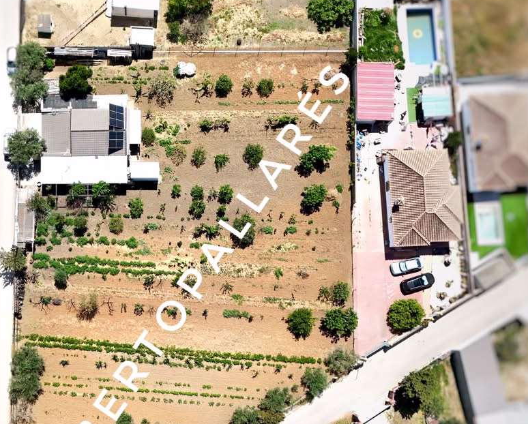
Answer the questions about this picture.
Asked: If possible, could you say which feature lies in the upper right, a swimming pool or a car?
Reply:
swimming pool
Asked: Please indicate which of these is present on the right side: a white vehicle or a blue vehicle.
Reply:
white vehicle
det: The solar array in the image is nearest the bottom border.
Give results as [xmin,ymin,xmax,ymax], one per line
[109,134,124,150]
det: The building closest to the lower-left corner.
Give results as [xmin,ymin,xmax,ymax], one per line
[18,202,36,242]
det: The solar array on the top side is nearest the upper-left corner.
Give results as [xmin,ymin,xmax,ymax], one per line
[109,104,124,128]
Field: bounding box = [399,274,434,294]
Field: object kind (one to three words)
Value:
car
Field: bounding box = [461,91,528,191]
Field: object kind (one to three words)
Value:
house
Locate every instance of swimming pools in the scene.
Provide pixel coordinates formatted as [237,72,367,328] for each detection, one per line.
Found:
[475,202,505,248]
[398,1,446,76]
